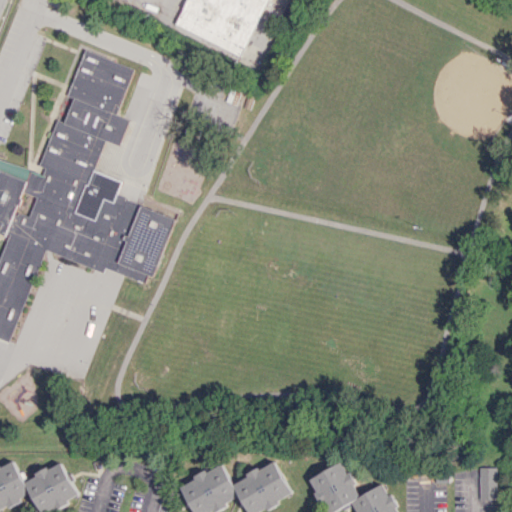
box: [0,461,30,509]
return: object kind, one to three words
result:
house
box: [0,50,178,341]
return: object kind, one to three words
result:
building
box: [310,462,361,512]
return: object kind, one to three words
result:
house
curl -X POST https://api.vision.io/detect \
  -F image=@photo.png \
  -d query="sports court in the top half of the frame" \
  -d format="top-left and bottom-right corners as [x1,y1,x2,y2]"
[159,136,210,204]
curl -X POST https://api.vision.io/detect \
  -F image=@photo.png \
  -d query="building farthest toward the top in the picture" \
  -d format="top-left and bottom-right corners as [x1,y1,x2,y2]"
[176,0,269,56]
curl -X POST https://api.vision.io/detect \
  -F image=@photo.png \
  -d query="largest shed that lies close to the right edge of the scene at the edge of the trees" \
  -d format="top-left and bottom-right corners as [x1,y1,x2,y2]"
[480,468,498,503]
